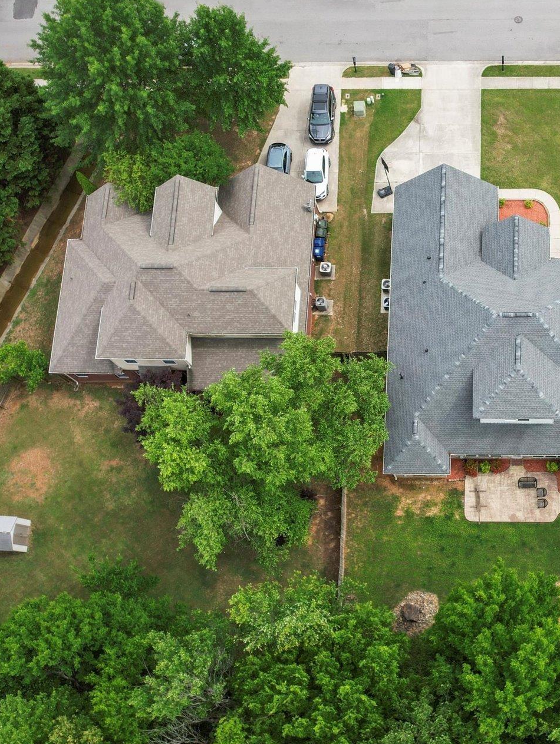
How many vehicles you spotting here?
3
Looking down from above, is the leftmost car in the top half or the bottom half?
top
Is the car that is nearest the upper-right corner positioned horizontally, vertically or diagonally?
vertically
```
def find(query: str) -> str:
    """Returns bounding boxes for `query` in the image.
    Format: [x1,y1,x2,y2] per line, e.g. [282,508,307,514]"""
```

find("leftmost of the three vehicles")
[269,140,296,176]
